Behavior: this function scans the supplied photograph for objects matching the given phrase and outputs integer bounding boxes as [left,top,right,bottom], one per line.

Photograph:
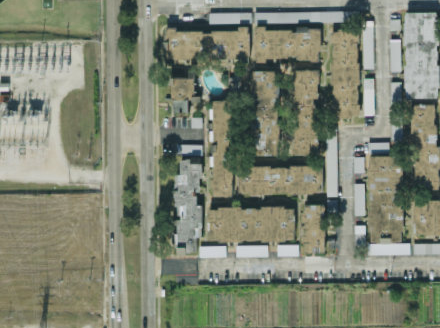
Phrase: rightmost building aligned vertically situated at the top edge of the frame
[404,12,439,100]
